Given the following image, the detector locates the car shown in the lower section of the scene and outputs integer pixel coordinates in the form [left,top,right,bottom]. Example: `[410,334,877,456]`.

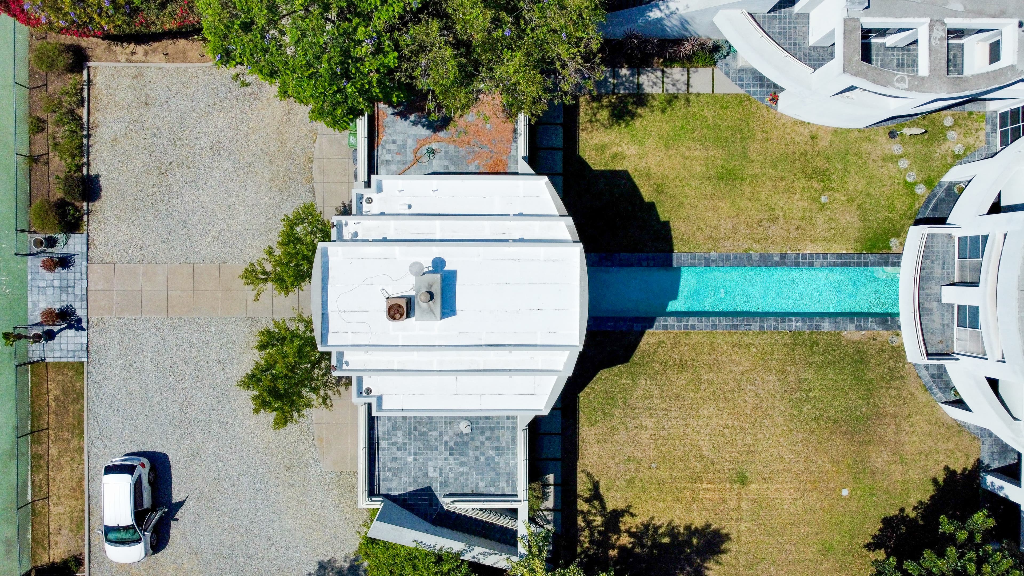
[98,454,167,564]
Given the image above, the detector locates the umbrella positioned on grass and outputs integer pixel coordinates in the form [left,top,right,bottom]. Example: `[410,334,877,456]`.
[888,127,926,139]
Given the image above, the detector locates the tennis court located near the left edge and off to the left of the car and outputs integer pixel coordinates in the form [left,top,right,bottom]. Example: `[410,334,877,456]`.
[0,0,31,576]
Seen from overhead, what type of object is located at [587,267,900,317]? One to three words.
swimming pool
